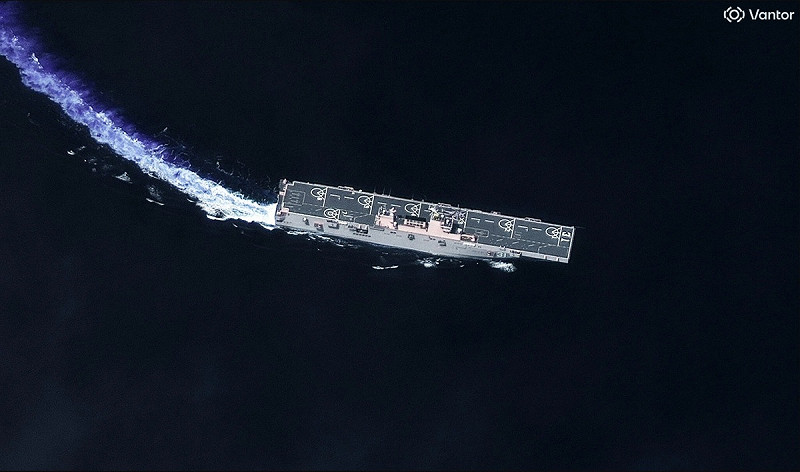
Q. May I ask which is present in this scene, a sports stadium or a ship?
ship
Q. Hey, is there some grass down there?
No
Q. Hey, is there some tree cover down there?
No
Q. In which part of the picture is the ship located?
center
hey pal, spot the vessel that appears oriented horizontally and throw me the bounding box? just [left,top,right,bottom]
[274,178,576,262]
